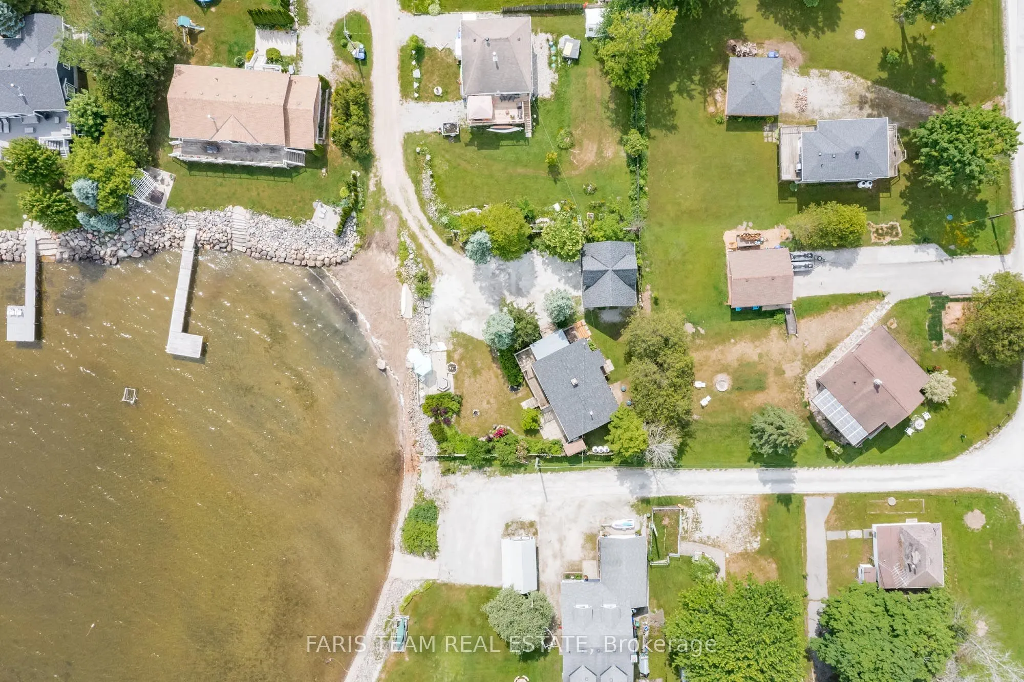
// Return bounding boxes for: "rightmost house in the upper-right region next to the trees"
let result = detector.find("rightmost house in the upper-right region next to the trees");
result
[778,117,910,185]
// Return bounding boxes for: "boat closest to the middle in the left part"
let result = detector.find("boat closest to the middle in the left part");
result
[400,284,413,319]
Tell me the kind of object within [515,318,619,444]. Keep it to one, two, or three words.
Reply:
house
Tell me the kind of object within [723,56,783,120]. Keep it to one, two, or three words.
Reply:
building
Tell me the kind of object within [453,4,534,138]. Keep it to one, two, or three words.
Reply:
house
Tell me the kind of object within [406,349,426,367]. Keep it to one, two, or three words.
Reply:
umbrella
